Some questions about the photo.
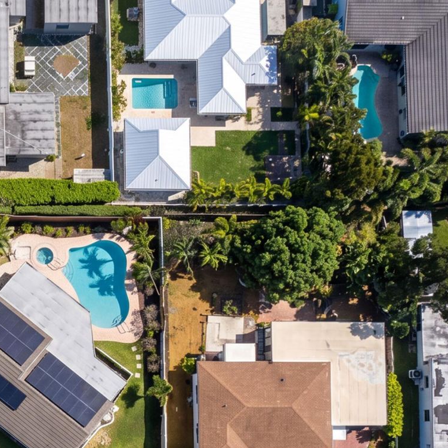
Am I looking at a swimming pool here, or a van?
swimming pool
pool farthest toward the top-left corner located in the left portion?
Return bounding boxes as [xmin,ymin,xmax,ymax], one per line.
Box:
[131,76,180,109]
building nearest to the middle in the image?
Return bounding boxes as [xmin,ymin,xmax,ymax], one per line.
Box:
[124,118,191,192]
